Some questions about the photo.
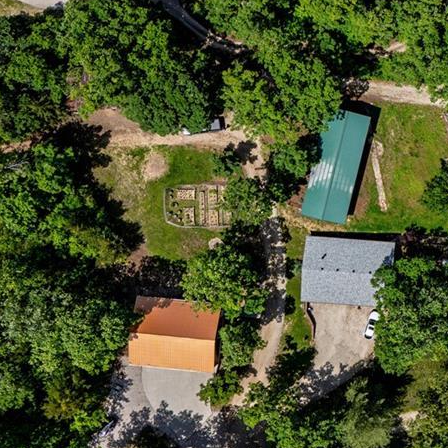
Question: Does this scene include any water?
No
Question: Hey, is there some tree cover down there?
Yes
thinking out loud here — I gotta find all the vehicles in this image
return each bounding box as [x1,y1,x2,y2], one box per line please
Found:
[182,118,223,138]
[362,310,379,342]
